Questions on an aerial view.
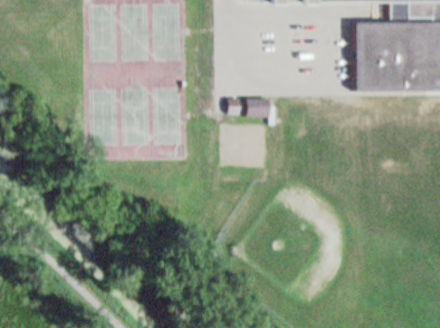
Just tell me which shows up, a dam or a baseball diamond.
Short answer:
baseball diamond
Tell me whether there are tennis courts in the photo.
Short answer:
Yes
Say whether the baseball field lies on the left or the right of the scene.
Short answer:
right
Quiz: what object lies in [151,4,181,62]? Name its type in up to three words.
tennis court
